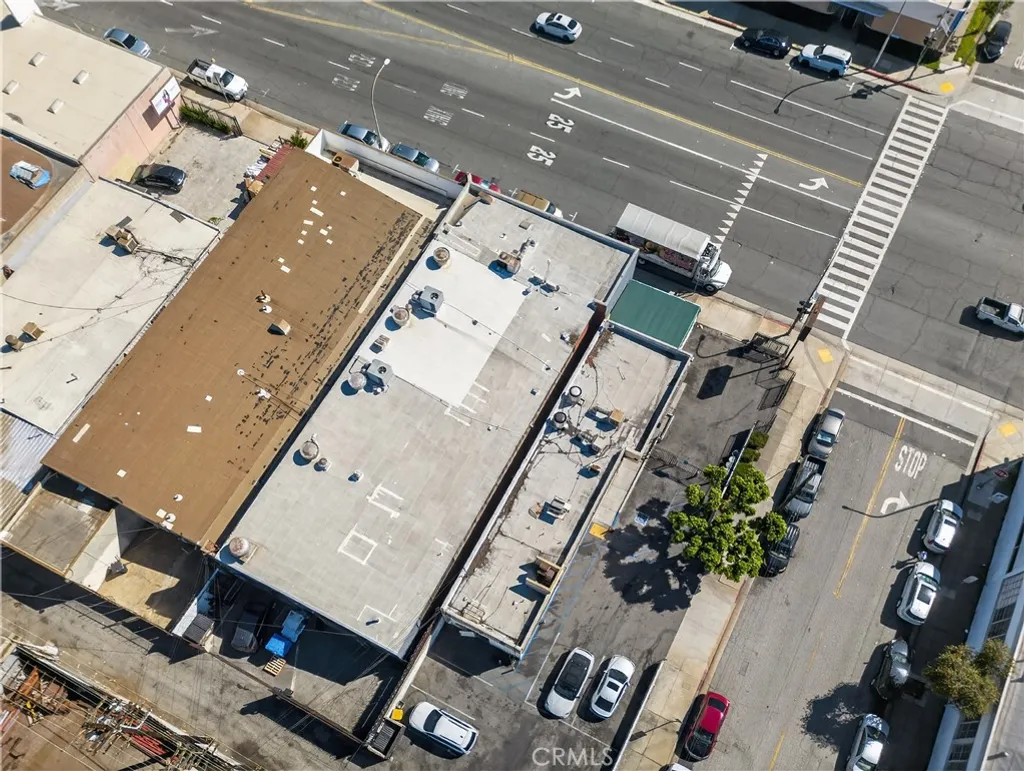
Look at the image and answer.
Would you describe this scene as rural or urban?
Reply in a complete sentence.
The area is urban.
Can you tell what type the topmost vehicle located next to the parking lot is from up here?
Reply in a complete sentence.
It turns out the topmost vehicle located next to the parking lot is a truck.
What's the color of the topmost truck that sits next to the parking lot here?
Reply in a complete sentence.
The topmost truck that sits next to the parking lot looks white in the image.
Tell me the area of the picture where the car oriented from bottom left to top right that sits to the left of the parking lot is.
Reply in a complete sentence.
The car oriented from bottom left to top right that sits to the left of the parking lot appears toward the bottom left of the photo.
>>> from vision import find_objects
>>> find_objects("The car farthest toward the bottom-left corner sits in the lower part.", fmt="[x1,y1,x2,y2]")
[217,592,278,667]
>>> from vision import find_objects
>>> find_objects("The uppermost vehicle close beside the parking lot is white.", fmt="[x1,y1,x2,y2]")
[614,200,743,289]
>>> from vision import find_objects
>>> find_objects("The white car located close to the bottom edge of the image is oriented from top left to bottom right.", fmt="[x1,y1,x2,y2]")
[406,699,481,760]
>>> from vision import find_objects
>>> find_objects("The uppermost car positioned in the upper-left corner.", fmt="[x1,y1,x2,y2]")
[106,26,155,56]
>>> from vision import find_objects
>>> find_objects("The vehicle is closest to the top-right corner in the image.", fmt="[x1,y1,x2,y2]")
[983,19,1019,66]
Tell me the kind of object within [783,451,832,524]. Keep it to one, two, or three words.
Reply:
truck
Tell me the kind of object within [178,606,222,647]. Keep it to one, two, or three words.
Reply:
shed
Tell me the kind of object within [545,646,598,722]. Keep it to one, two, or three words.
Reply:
car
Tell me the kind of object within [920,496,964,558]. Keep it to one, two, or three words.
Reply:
car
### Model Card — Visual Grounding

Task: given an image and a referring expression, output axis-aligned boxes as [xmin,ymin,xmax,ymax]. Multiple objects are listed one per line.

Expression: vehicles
[961,290,1024,339]
[841,702,889,771]
[135,162,188,197]
[585,652,635,725]
[106,26,155,56]
[338,120,390,154]
[683,691,732,764]
[809,407,850,461]
[736,31,790,62]
[533,14,583,45]
[217,592,278,667]
[920,496,964,558]
[614,200,743,289]
[983,19,1019,66]
[868,635,915,705]
[387,140,441,175]
[545,646,598,722]
[783,451,832,524]
[894,559,941,629]
[757,516,803,581]
[188,58,249,95]
[450,167,504,191]
[406,699,481,760]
